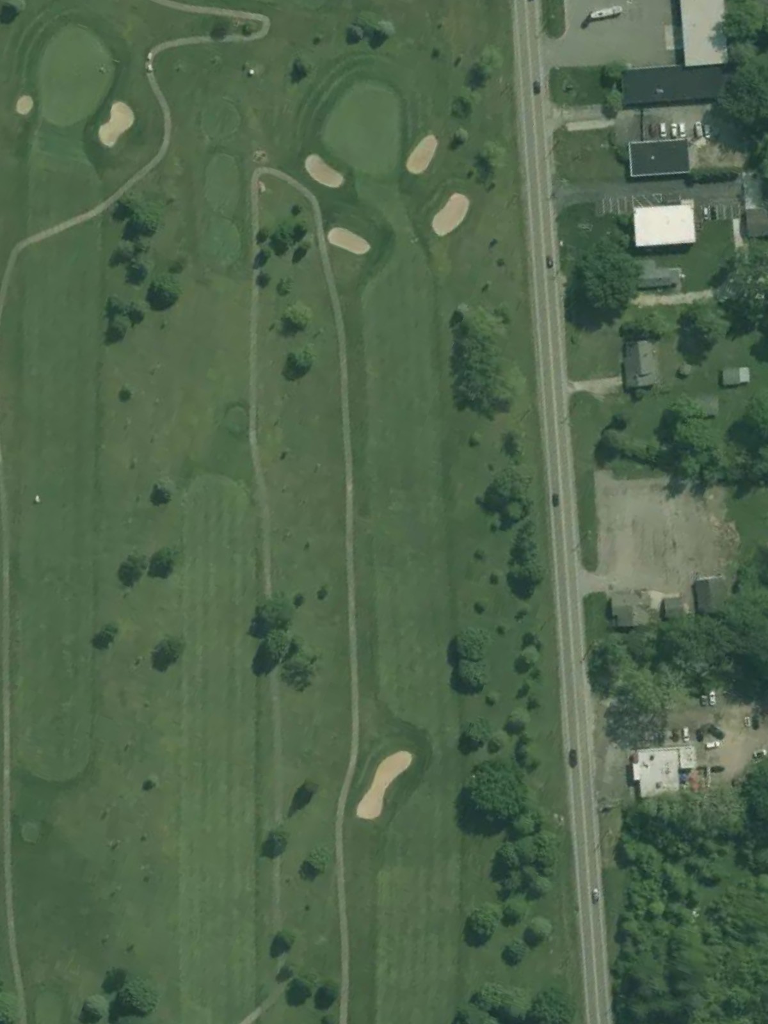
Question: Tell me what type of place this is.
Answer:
golf course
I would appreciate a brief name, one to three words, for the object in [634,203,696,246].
building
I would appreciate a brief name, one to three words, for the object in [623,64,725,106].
building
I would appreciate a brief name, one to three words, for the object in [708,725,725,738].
vehicle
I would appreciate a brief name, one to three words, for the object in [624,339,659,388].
house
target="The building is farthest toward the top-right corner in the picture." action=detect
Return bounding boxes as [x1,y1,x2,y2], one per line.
[682,0,727,66]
